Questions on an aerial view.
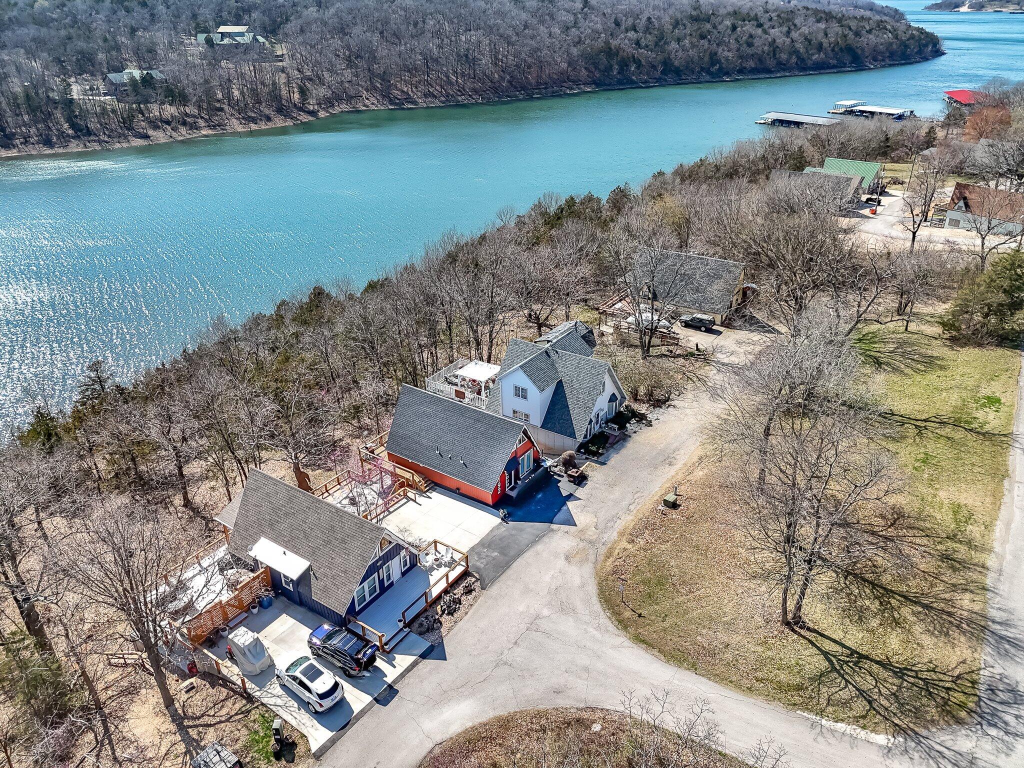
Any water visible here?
Yes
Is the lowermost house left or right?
left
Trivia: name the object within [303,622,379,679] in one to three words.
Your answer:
car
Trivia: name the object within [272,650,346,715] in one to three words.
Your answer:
car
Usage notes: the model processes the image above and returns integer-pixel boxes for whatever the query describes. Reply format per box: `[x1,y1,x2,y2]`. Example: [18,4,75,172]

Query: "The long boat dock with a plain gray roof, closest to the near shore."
[749,113,830,130]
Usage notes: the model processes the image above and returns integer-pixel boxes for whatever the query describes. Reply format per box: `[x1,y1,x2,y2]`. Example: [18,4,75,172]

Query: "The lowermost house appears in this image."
[206,466,433,622]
